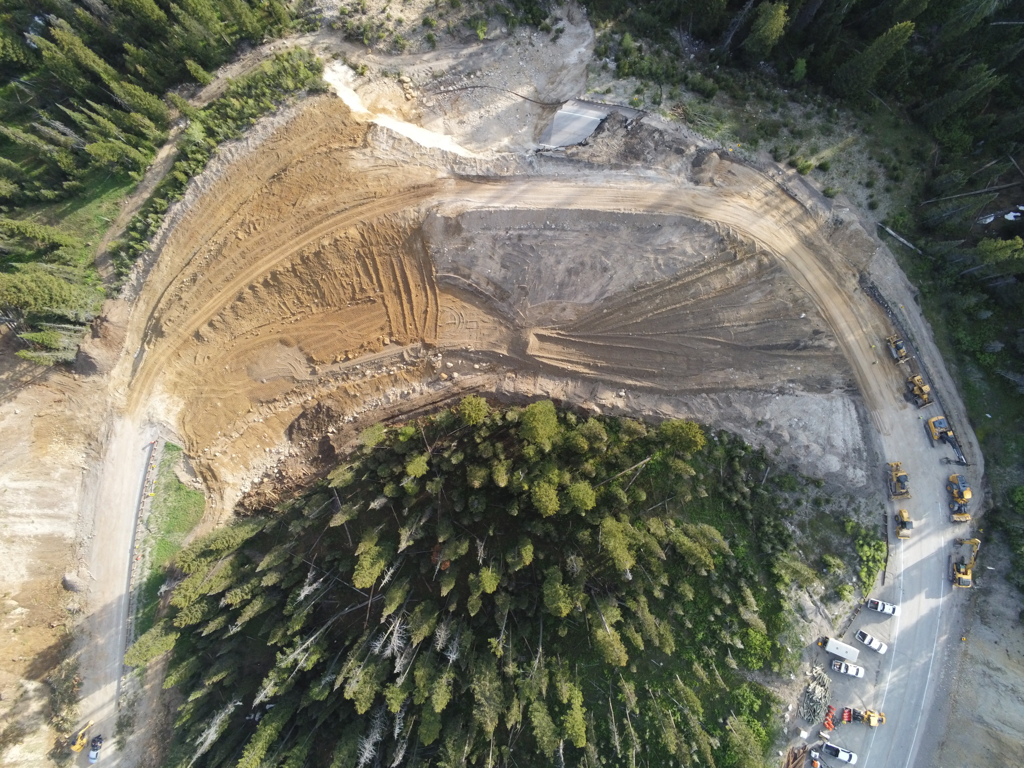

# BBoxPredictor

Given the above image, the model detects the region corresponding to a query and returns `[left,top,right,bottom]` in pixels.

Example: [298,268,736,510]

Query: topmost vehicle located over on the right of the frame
[883,331,912,367]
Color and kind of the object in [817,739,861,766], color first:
white truck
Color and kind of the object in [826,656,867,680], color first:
white truck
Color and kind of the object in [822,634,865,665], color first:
white trailer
